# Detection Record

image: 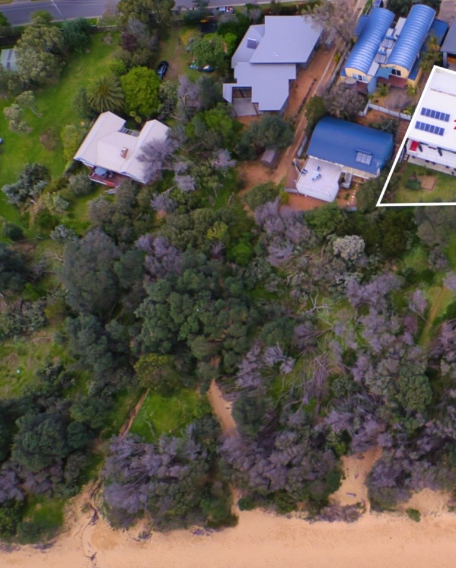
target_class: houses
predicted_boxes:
[222,16,322,116]
[286,120,393,203]
[341,0,449,103]
[406,67,456,176]
[74,111,172,193]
